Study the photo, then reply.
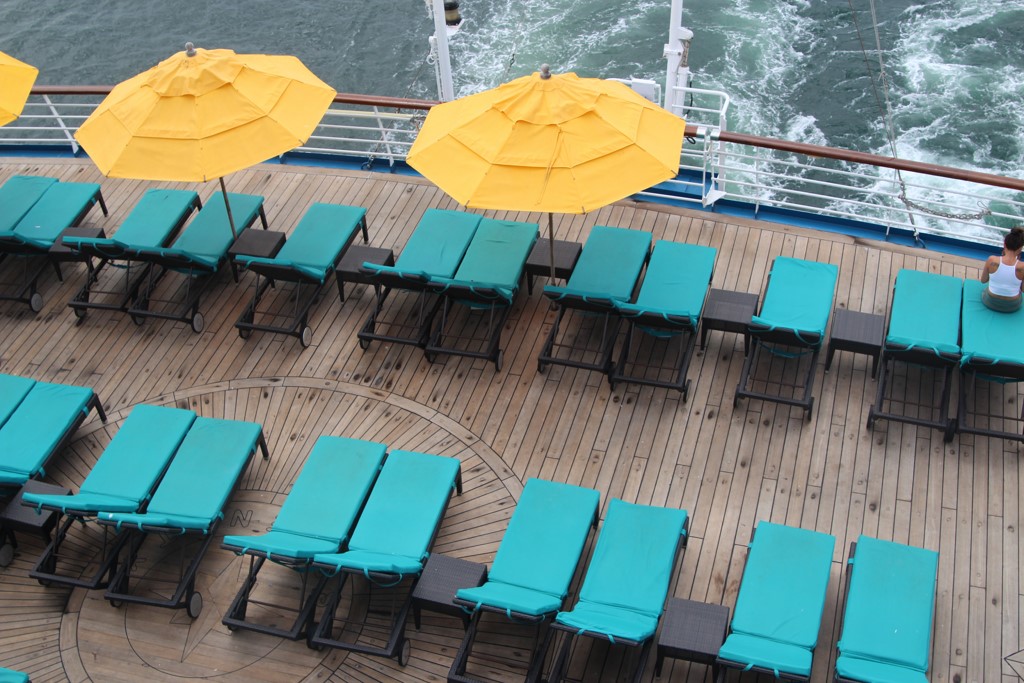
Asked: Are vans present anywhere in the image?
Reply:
No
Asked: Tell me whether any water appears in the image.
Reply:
Yes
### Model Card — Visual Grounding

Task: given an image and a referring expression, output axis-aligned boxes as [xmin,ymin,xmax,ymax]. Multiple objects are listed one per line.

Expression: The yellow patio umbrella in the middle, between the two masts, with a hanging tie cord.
[406,67,686,312]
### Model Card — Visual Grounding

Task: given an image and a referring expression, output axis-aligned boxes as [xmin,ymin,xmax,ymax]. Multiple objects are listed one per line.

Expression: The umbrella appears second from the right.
[69,42,341,272]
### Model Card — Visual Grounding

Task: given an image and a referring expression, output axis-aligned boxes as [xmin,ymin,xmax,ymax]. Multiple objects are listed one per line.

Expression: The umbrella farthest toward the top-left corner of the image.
[0,49,37,123]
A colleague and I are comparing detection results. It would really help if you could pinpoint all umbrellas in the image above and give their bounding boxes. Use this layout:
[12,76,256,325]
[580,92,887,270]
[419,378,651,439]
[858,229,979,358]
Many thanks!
[69,42,341,272]
[406,67,686,312]
[0,49,37,123]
